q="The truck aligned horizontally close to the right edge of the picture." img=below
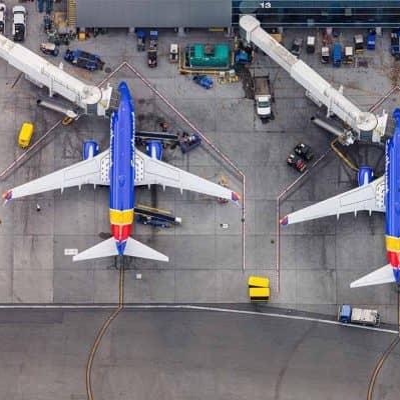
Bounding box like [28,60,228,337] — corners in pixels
[339,305,383,327]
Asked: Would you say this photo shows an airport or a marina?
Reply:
airport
